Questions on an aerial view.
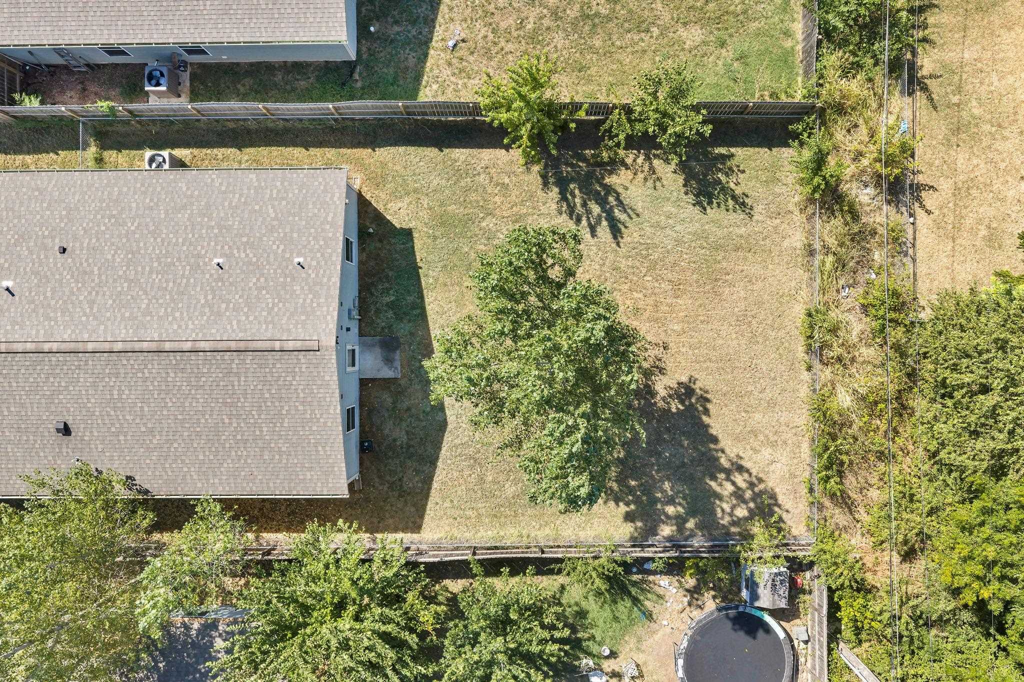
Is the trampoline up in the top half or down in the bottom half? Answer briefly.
bottom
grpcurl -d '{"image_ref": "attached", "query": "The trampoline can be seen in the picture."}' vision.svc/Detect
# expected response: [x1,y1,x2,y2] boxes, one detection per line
[672,597,803,682]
